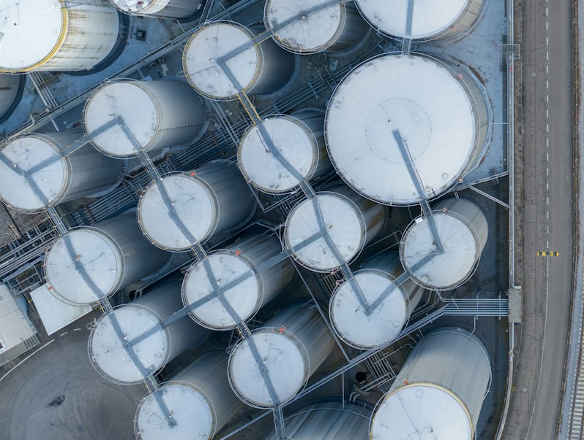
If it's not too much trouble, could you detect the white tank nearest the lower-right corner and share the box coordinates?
[366,320,501,440]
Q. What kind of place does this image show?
industrial area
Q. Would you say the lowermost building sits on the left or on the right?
left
